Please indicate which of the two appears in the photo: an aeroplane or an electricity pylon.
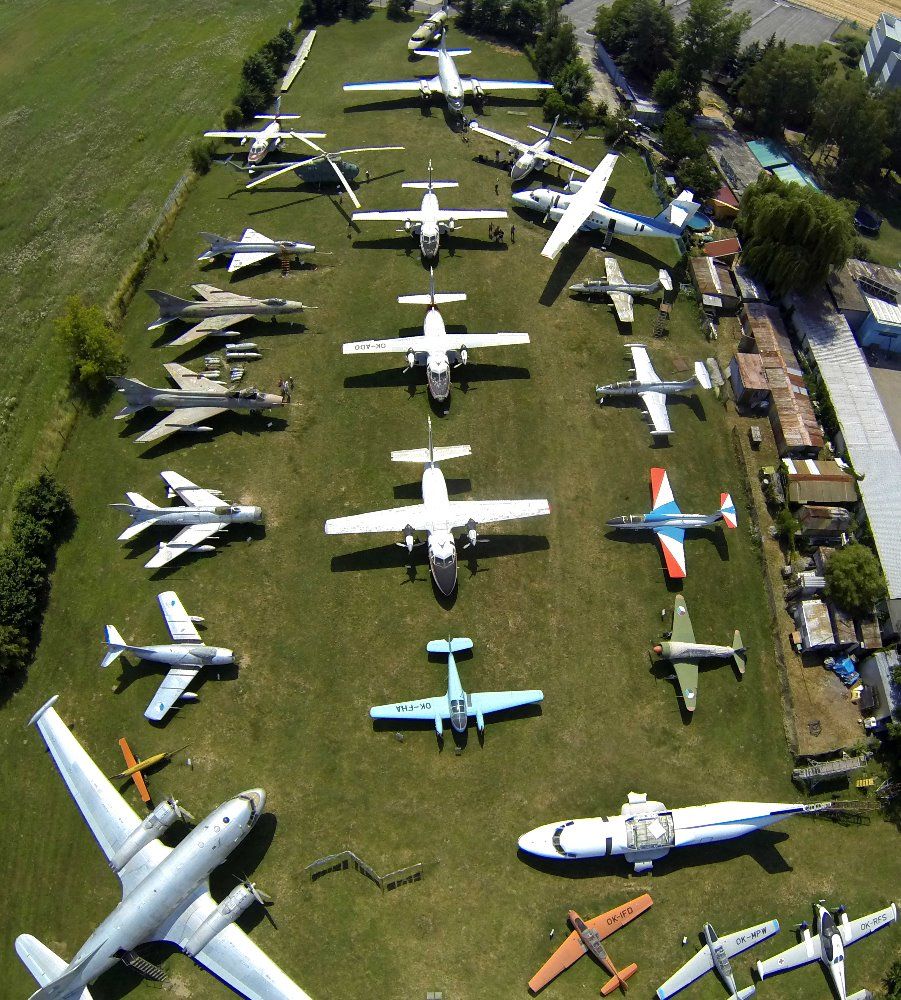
aeroplane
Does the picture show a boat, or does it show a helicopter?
helicopter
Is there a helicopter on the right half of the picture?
No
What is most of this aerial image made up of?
grass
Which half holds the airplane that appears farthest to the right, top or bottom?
bottom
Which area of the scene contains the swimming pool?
top right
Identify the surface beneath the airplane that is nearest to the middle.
grass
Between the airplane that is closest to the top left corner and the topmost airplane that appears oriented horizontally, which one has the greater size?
the topmost airplane that appears oriented horizontally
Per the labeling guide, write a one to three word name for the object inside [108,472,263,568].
airplane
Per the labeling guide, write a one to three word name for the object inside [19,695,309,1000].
airplane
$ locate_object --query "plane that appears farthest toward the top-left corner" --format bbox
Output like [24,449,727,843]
[202,87,327,164]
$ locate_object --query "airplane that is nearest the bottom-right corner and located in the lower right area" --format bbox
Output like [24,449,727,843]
[762,901,896,1000]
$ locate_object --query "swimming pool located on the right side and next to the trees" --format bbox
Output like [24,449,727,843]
[679,214,717,243]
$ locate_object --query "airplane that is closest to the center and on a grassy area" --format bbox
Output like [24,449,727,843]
[325,424,551,596]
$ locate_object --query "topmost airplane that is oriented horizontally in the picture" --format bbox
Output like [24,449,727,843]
[343,23,555,120]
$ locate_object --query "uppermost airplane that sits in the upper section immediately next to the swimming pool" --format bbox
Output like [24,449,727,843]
[512,152,700,257]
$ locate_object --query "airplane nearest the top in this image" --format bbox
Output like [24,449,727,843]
[408,0,447,53]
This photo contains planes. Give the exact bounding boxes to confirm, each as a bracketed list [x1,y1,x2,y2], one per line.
[517,791,820,875]
[469,105,595,183]
[762,901,896,1000]
[408,0,447,53]
[653,597,756,711]
[660,917,779,1000]
[371,637,542,740]
[606,469,739,578]
[146,284,311,345]
[569,258,673,322]
[352,157,508,259]
[202,87,327,164]
[596,345,711,435]
[530,895,652,994]
[325,424,551,596]
[109,363,303,442]
[108,472,263,568]
[343,23,555,120]
[343,271,530,401]
[19,695,309,1000]
[199,229,332,271]
[512,152,700,257]
[101,592,237,719]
